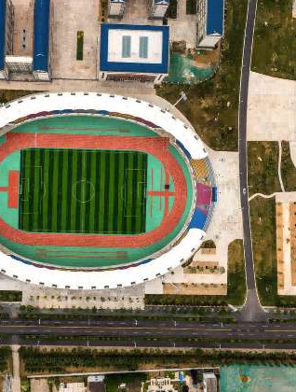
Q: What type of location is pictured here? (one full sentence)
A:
It's a sports ground.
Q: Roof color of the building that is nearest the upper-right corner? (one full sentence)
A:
The roof of the building that is nearest the upper-right corner is blue.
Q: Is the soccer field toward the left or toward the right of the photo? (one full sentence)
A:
It is on the left.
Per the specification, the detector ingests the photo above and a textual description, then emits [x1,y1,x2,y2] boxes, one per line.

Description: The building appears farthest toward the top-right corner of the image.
[199,0,225,48]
